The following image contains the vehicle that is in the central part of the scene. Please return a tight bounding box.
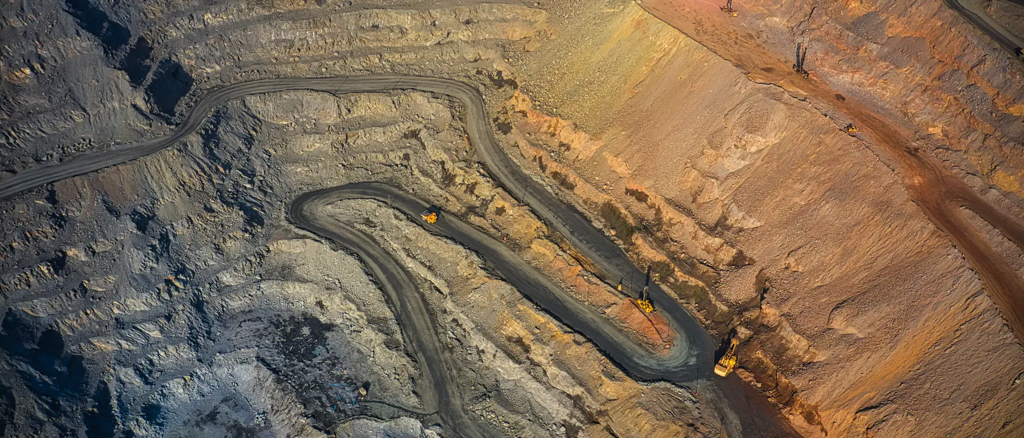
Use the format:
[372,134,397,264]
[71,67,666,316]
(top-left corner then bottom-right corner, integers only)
[420,209,439,224]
